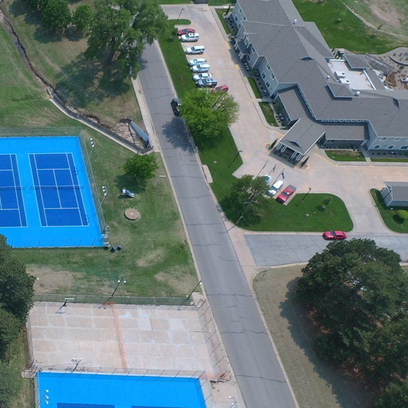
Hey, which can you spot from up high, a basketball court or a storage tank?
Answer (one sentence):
This aerial view contains a basketball court.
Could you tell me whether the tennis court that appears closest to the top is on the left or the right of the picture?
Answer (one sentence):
The tennis court that appears closest to the top sits on the left side.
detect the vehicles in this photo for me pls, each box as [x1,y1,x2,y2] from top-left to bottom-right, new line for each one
[191,62,211,73]
[218,81,231,92]
[197,76,218,88]
[262,170,275,185]
[185,31,200,42]
[193,72,213,81]
[170,100,182,115]
[177,27,196,34]
[269,177,286,195]
[188,57,208,67]
[322,231,347,241]
[278,183,298,201]
[186,44,206,54]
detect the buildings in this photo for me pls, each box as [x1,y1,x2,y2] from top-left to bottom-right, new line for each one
[230,0,408,165]
[378,182,408,208]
